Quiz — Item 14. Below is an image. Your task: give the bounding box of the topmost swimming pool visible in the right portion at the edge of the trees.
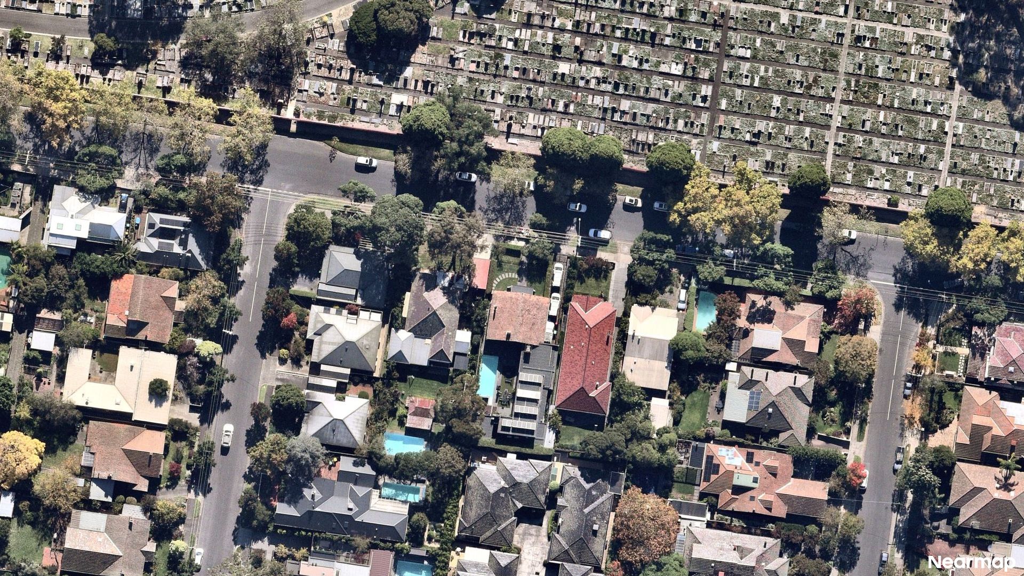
[696,290,718,332]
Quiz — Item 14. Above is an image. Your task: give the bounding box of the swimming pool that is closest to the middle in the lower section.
[478,355,499,400]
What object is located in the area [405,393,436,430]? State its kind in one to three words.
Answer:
shed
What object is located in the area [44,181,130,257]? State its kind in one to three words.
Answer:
house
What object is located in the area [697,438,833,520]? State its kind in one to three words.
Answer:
house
